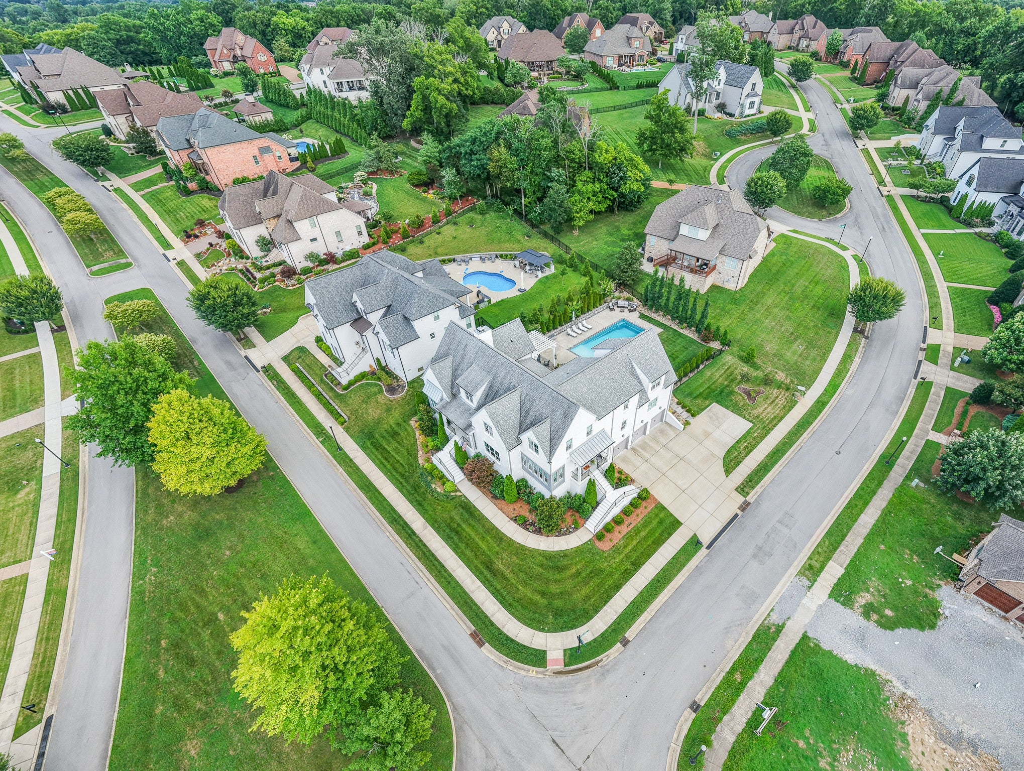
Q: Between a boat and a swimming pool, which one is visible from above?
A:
swimming pool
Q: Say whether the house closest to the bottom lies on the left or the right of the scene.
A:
right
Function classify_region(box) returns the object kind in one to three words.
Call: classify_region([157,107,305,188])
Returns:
house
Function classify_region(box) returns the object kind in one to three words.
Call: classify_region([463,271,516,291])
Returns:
swimming pool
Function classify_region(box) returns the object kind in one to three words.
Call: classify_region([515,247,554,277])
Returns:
gazebo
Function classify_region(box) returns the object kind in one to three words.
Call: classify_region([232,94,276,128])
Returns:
building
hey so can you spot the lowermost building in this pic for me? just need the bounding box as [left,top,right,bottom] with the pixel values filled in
[950,517,1024,640]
